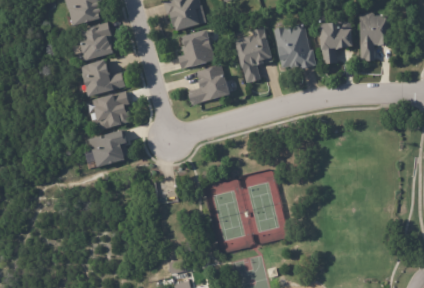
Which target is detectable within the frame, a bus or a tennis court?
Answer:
tennis court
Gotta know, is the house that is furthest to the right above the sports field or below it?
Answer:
above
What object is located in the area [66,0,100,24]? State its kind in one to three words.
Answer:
house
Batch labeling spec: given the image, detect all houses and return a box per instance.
[238,28,272,83]
[274,23,314,70]
[170,0,206,30]
[66,0,100,24]
[90,130,126,166]
[82,59,126,96]
[360,12,386,60]
[179,32,212,68]
[93,92,130,130]
[190,64,229,103]
[321,22,352,64]
[82,23,112,60]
